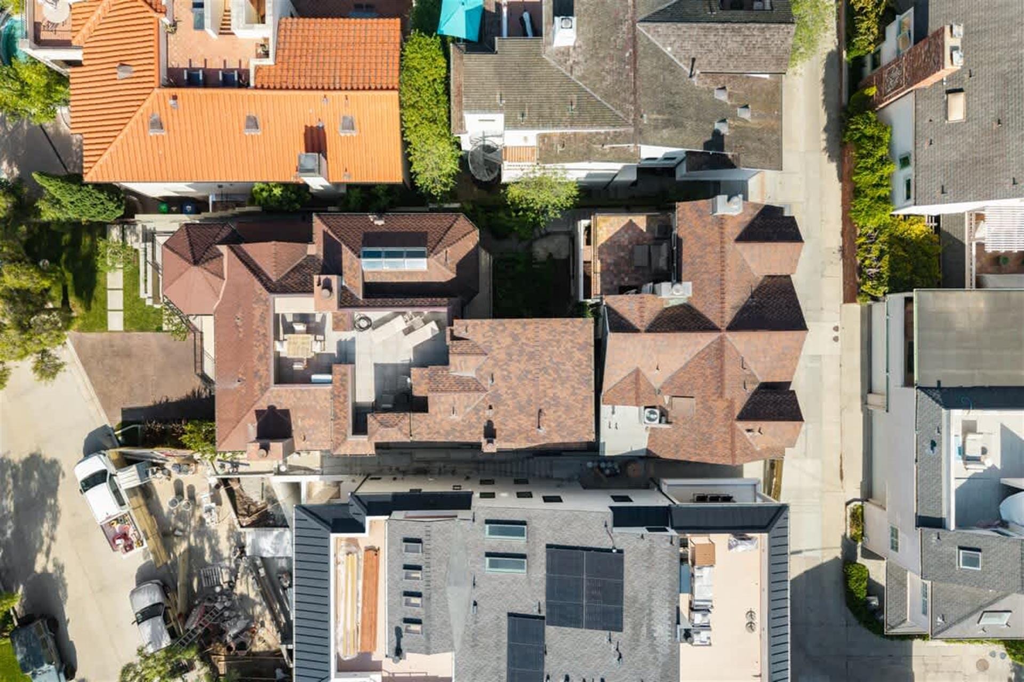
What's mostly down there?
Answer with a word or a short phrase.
buildings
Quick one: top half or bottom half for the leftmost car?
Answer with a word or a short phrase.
bottom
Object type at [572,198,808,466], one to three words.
house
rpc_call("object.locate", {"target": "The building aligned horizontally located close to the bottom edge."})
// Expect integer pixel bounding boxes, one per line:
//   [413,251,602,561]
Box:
[292,465,791,682]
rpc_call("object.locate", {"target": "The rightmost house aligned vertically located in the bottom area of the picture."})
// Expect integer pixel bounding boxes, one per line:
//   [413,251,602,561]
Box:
[856,289,1024,648]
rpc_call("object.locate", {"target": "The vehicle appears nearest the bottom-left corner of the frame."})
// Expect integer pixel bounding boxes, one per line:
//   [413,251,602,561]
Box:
[12,599,87,682]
